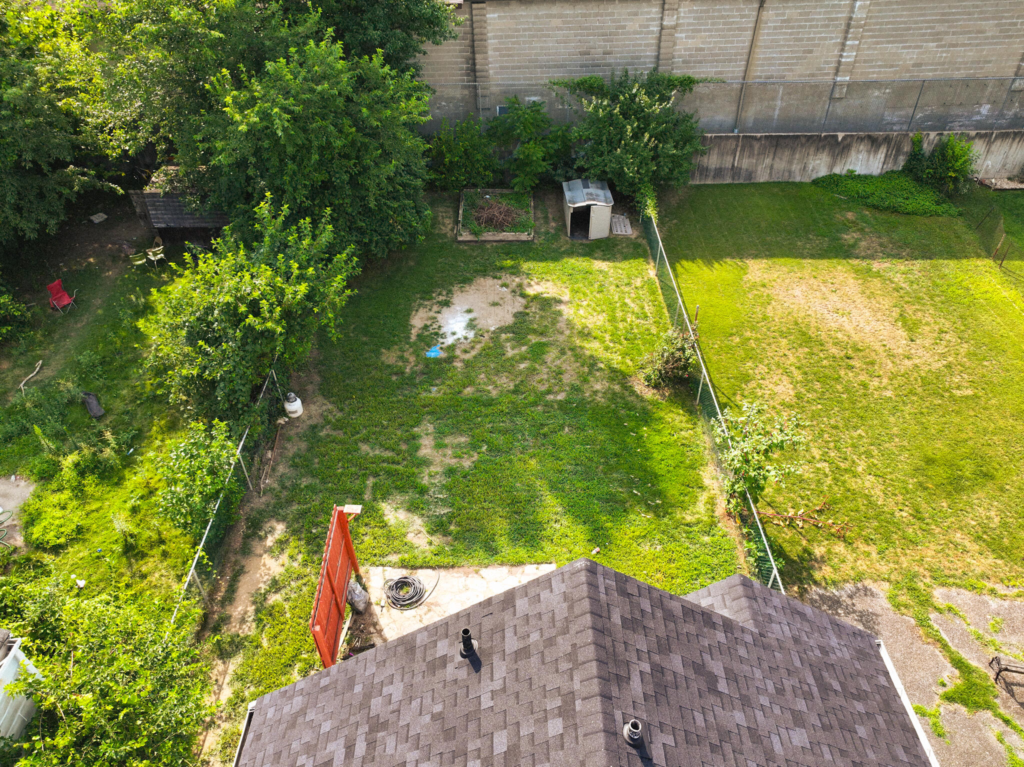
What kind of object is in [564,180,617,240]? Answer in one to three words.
shed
